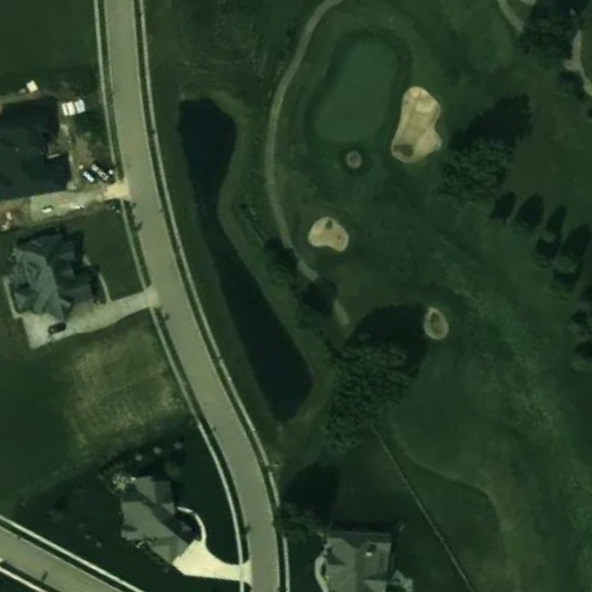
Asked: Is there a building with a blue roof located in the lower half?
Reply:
No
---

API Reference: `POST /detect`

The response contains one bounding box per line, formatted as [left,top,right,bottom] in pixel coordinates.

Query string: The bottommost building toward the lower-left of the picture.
[117,476,198,566]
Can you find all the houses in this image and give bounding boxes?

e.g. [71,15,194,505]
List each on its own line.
[7,231,94,323]
[117,476,198,566]
[0,98,70,201]
[325,533,395,592]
